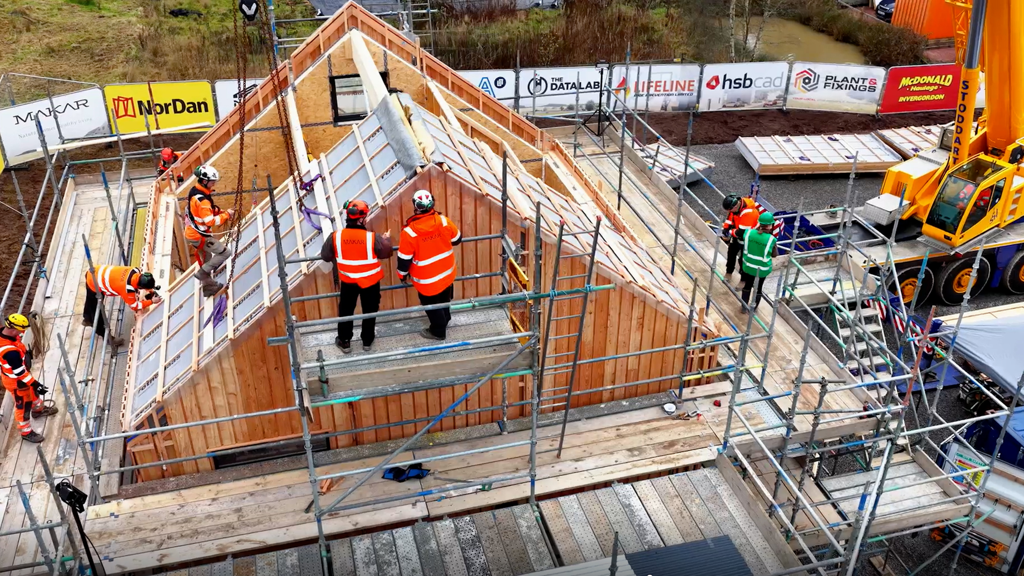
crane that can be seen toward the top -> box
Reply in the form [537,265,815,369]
[734,0,1024,384]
